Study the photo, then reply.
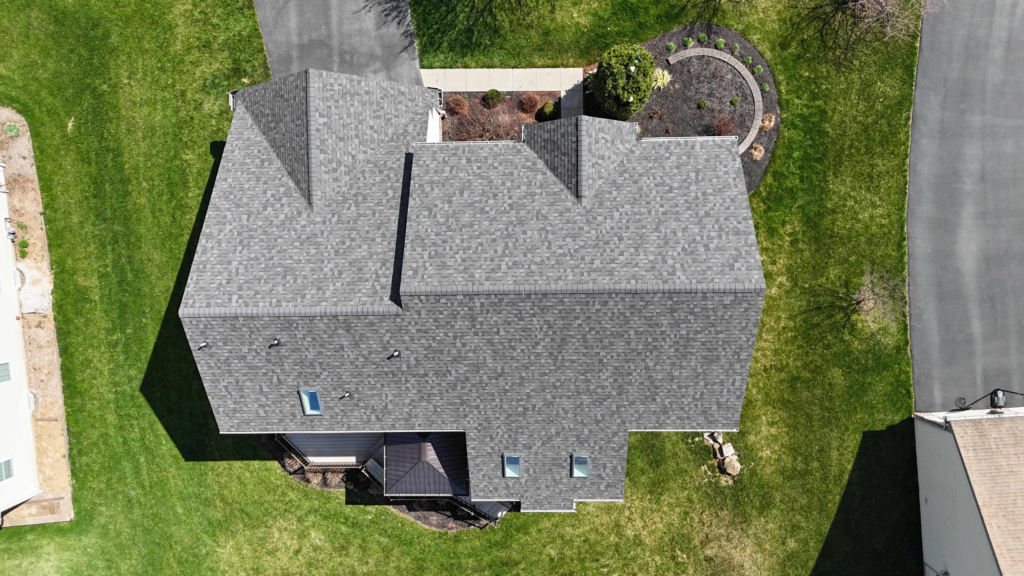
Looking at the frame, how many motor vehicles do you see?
0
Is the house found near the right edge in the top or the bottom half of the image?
bottom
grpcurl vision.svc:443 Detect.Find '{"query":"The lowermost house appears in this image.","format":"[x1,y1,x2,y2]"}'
[909,408,1024,576]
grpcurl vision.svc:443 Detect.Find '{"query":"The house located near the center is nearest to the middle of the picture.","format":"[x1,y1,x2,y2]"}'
[178,68,766,514]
